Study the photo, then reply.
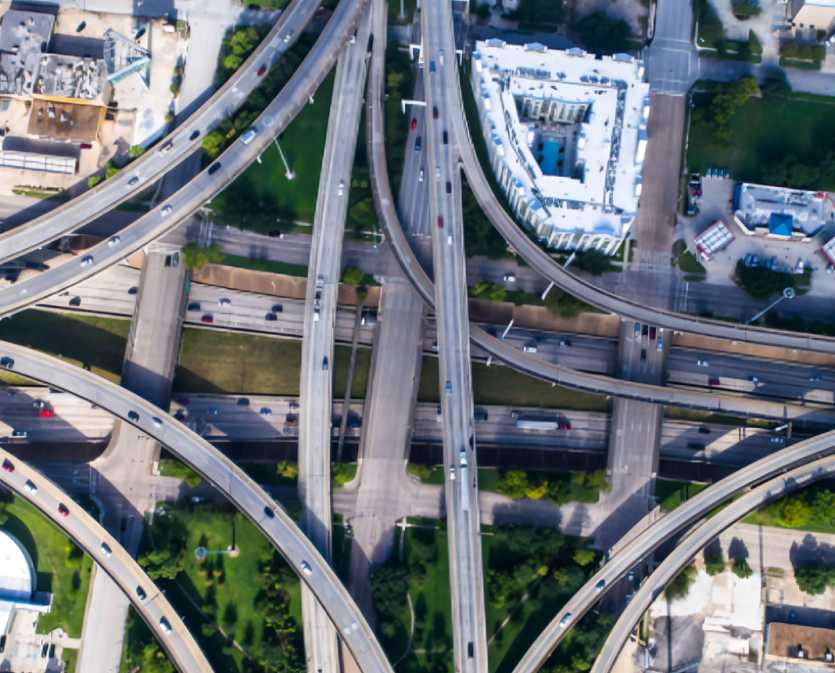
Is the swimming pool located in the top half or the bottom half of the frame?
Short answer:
top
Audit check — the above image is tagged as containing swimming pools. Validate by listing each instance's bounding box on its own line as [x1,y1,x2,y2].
[539,137,560,176]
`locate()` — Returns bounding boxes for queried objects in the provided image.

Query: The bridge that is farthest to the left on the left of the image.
[88,247,186,463]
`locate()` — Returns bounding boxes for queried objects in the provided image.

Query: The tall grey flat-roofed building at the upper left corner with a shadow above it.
[0,7,68,58]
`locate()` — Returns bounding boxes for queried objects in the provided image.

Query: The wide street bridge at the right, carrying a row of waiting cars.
[605,316,673,479]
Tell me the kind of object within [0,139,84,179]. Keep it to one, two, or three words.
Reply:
shed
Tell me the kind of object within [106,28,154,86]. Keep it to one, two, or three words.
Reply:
building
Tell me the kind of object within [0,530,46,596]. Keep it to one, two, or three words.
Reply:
building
